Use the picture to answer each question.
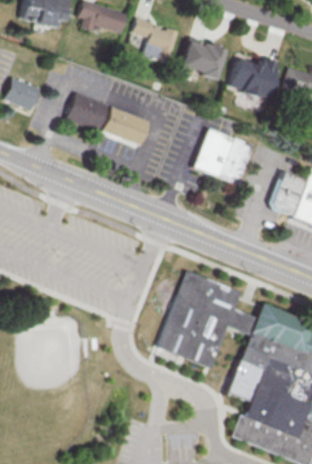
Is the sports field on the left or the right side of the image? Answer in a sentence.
It is on the left.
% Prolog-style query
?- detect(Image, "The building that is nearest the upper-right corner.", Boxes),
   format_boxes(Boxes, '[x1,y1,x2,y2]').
[284,64,312,91]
